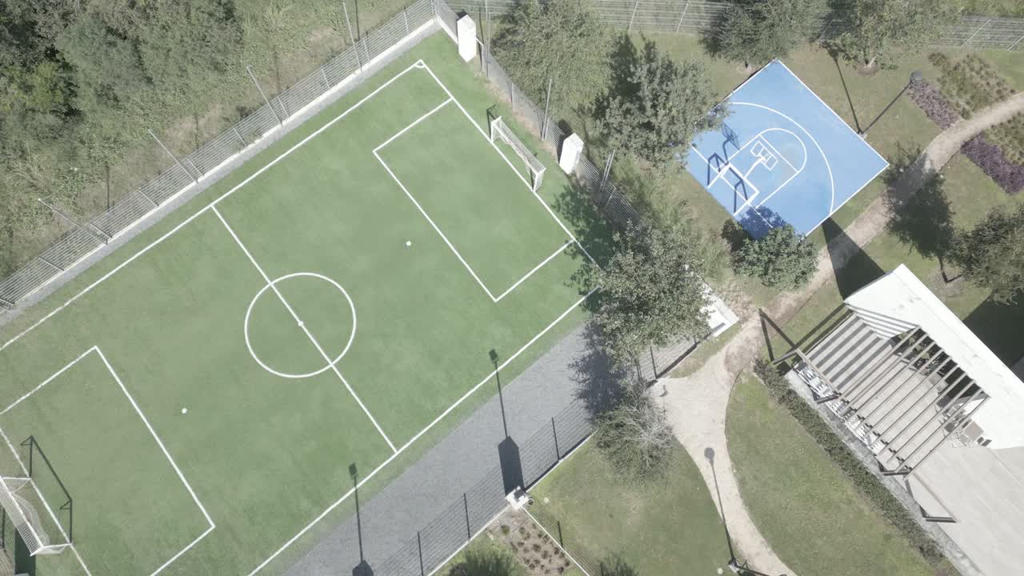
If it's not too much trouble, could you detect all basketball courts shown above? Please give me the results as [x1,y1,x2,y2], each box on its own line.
[668,61,889,252]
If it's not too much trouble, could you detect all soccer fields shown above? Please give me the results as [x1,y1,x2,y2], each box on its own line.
[0,30,666,576]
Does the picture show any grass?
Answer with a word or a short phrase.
Yes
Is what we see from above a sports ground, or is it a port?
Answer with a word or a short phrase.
sports ground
